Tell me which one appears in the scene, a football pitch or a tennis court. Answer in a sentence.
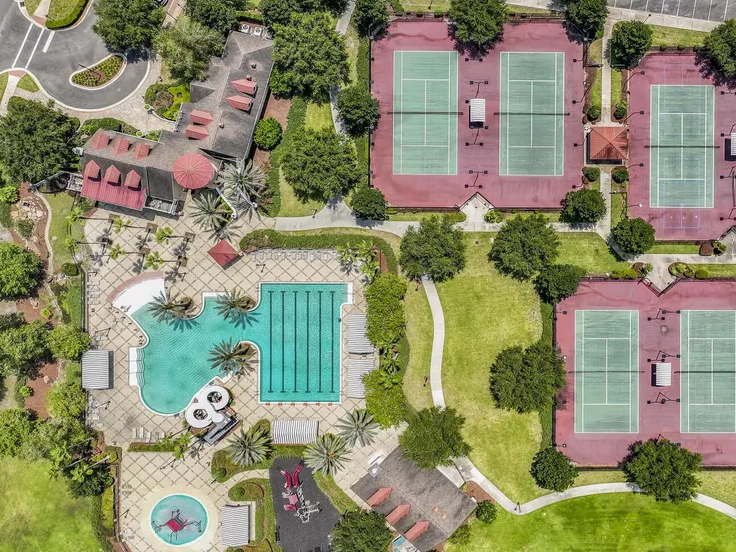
The image shows a tennis court.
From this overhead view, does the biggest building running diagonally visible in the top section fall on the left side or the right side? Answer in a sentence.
You can find the biggest building running diagonally visible in the top section on the left side of the picture.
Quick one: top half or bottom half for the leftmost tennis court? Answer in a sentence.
The leftmost tennis court is in the top half of the image.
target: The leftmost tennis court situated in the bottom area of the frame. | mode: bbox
[555,279,660,467]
